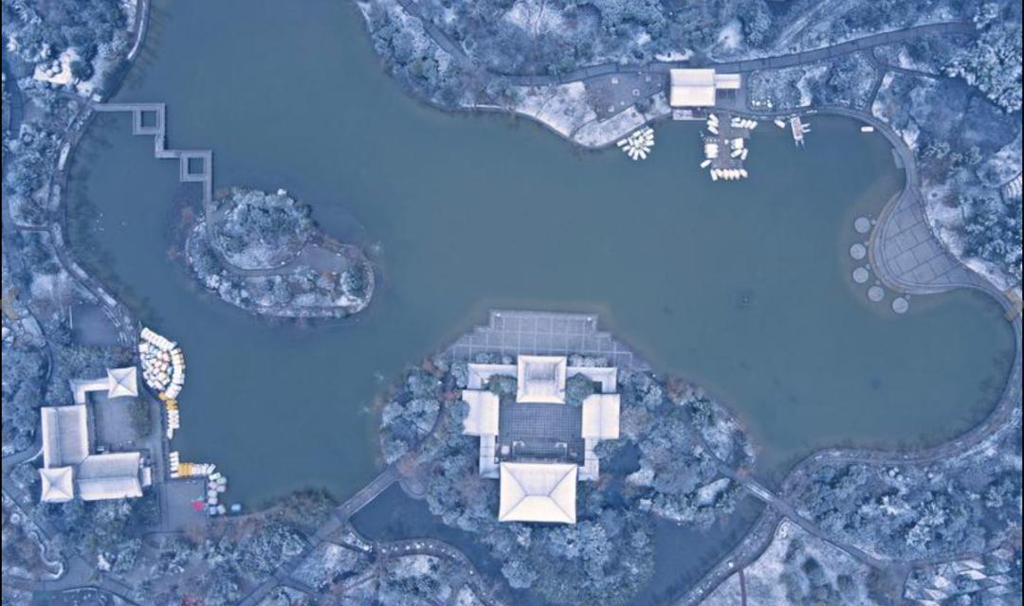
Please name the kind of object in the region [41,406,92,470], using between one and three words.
building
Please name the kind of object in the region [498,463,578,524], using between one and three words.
building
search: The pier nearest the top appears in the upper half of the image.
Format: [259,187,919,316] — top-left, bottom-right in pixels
[703,113,750,169]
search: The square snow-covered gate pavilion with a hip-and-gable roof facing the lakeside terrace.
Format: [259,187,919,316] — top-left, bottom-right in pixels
[516,355,568,404]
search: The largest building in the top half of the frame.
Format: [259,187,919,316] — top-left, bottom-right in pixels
[670,69,717,106]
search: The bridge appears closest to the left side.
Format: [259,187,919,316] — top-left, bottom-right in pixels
[91,103,213,207]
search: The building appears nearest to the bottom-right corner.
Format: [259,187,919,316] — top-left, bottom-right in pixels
[582,394,620,440]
